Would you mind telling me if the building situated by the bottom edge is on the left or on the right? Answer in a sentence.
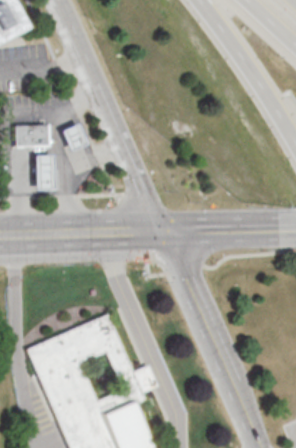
The building situated by the bottom edge appears in the left half of the scene.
